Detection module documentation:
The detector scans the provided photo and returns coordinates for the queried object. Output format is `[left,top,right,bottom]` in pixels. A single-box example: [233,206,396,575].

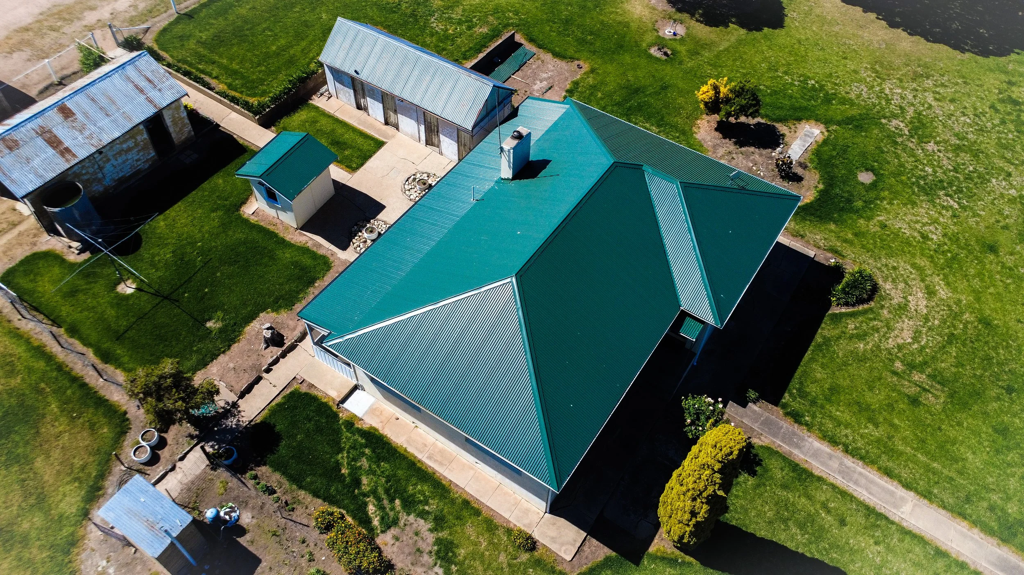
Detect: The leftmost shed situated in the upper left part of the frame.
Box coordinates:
[0,49,191,239]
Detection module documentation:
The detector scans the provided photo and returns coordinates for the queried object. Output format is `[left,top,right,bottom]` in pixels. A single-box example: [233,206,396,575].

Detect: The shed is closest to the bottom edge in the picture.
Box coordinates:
[96,474,209,575]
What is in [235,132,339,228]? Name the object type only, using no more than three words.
shed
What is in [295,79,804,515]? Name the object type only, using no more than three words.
house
